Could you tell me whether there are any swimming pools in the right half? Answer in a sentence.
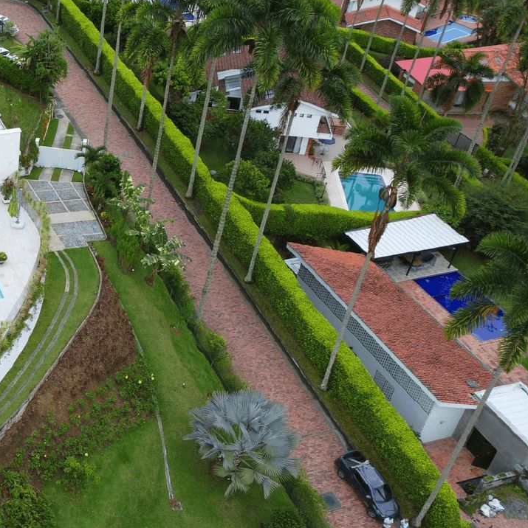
Yes, a swimming pool can be seen in the right half.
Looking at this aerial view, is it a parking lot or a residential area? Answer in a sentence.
This image shows a residential area.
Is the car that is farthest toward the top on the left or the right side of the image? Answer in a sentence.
It is on the left.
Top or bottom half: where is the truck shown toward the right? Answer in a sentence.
You can find the truck shown toward the right in the bottom half.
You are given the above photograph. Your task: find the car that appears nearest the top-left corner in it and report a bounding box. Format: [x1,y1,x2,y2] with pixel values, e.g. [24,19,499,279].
[0,12,25,40]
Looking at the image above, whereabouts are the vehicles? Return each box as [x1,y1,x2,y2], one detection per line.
[0,12,25,40]
[333,443,407,527]
[0,40,23,68]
